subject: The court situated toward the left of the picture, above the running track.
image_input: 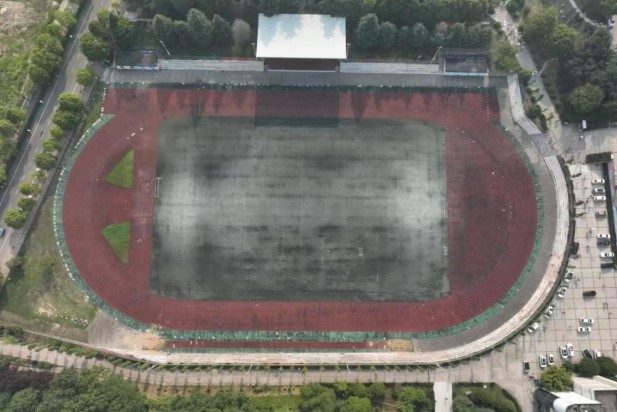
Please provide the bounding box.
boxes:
[111,49,160,70]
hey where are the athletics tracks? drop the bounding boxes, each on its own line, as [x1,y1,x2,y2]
[55,83,544,340]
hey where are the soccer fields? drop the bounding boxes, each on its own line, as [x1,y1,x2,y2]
[151,117,448,301]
